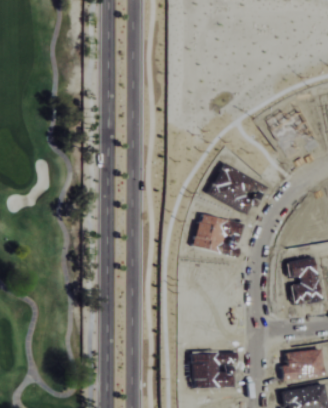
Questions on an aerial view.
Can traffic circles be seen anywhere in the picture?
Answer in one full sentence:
No, there is no traffic circle in the image.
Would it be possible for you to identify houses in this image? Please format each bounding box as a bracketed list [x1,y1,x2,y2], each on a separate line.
[280,386,328,408]
[284,351,326,382]
[211,166,268,214]
[192,354,238,388]
[194,214,244,256]
[288,258,324,304]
